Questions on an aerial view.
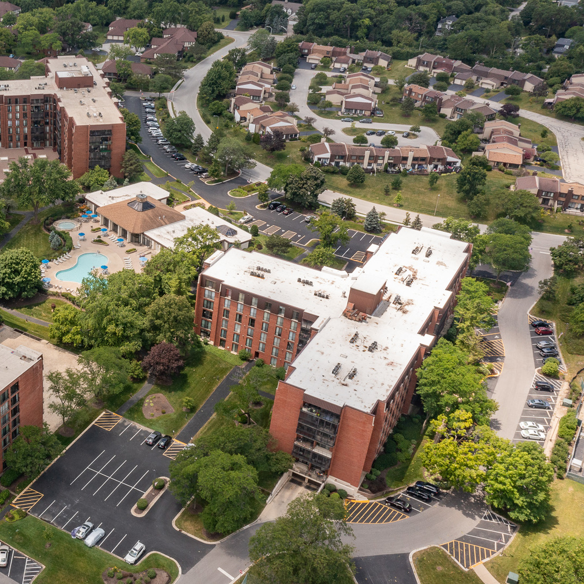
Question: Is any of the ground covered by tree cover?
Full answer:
Yes, some tree cover is visible.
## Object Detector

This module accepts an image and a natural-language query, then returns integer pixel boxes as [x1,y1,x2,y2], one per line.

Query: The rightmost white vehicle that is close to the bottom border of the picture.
[124,541,146,565]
